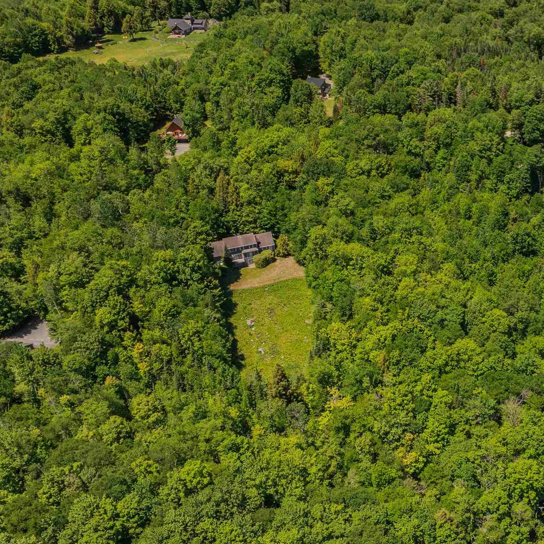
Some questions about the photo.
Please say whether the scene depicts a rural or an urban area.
rural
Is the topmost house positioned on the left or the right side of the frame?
left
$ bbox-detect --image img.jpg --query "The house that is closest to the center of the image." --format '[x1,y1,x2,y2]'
[207,227,275,266]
